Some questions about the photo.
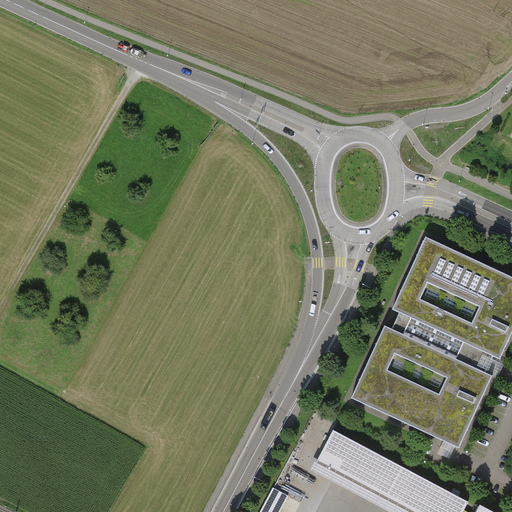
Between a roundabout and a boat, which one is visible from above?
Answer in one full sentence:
Of the two, only a roundabout appears.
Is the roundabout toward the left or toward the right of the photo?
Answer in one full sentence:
The roundabout is on the right side of the image.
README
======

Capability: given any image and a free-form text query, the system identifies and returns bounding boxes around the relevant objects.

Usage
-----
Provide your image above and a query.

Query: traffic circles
[314,126,406,245]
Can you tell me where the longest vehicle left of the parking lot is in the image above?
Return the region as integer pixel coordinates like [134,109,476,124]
[261,402,277,430]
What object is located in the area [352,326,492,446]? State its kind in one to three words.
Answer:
building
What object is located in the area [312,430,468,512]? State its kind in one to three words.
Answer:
building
